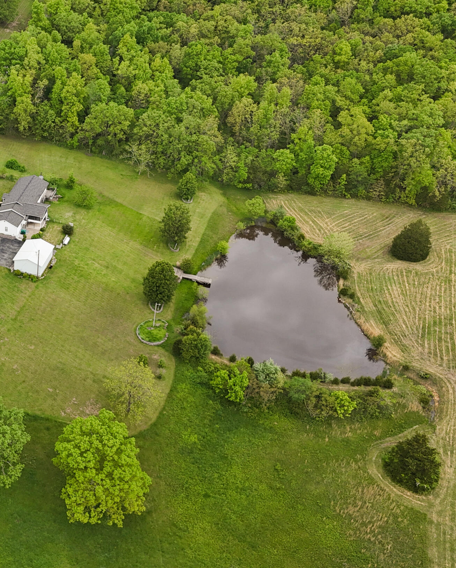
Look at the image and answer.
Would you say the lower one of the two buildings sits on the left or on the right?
left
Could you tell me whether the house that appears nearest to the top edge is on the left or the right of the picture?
left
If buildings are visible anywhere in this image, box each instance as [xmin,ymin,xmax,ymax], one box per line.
[13,238,54,276]
[0,172,58,236]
